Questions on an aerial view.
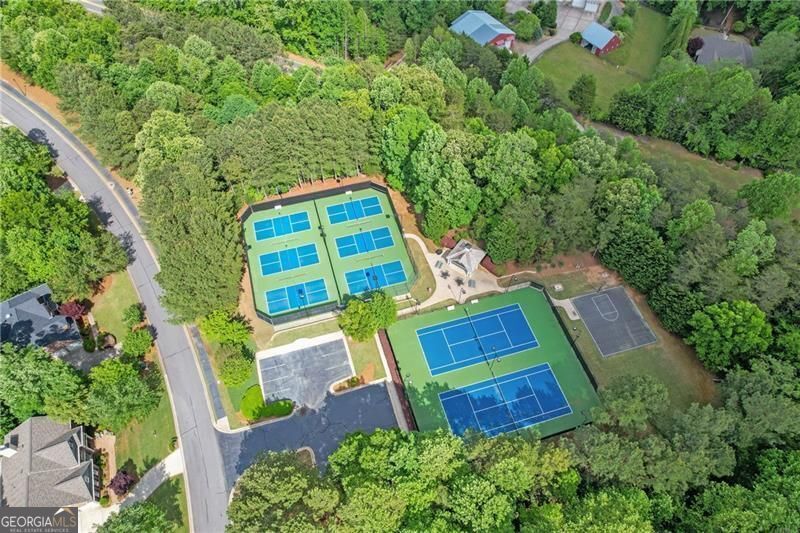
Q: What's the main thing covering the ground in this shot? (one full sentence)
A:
The largest share of the image is taken up by trees.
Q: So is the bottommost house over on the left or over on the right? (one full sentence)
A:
The bottommost house is on the left side of the image.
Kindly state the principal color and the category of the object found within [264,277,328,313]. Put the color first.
blue sports court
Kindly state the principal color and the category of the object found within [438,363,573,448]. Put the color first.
blue tennis court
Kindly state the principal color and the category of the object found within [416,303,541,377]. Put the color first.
blue tennis court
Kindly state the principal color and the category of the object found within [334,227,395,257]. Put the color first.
blue sports court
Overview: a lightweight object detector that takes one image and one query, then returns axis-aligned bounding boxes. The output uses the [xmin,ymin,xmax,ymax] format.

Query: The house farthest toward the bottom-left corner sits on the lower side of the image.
[0,413,102,533]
